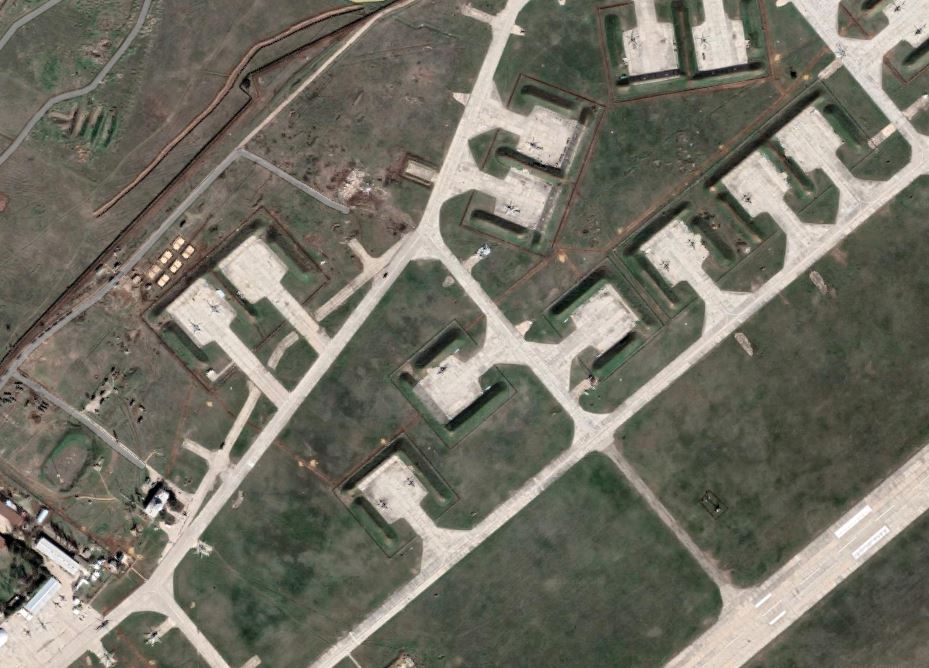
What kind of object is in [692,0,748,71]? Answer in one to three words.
helipad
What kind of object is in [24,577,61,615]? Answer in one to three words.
hangar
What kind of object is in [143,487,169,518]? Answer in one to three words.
building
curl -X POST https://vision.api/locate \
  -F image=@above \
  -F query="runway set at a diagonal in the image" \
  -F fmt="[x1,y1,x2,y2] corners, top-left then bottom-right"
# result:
[662,446,929,668]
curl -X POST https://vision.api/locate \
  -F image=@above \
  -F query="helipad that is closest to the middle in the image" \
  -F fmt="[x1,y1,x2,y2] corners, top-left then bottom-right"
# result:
[421,320,531,418]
